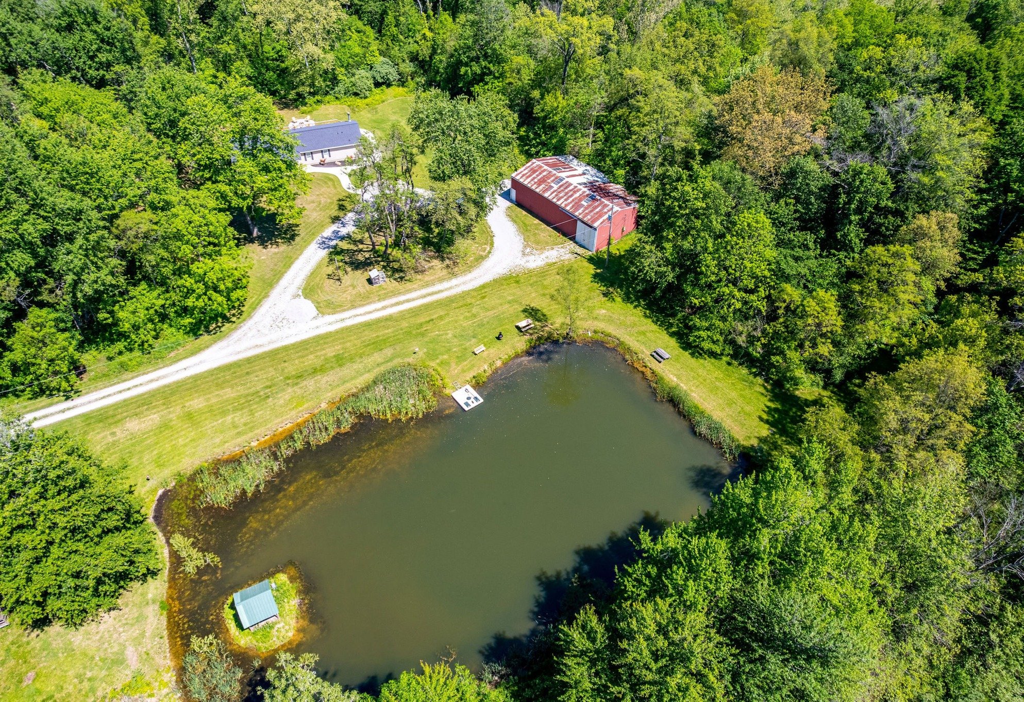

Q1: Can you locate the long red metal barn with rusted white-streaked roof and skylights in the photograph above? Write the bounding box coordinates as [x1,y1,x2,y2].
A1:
[509,157,640,252]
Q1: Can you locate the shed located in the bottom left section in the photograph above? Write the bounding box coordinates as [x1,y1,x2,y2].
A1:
[232,582,277,638]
